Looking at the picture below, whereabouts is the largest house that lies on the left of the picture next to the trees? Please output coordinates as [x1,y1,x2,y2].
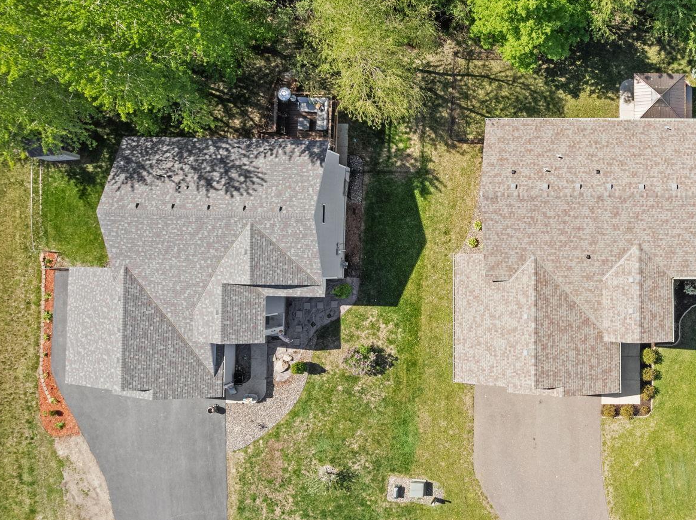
[66,138,350,399]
